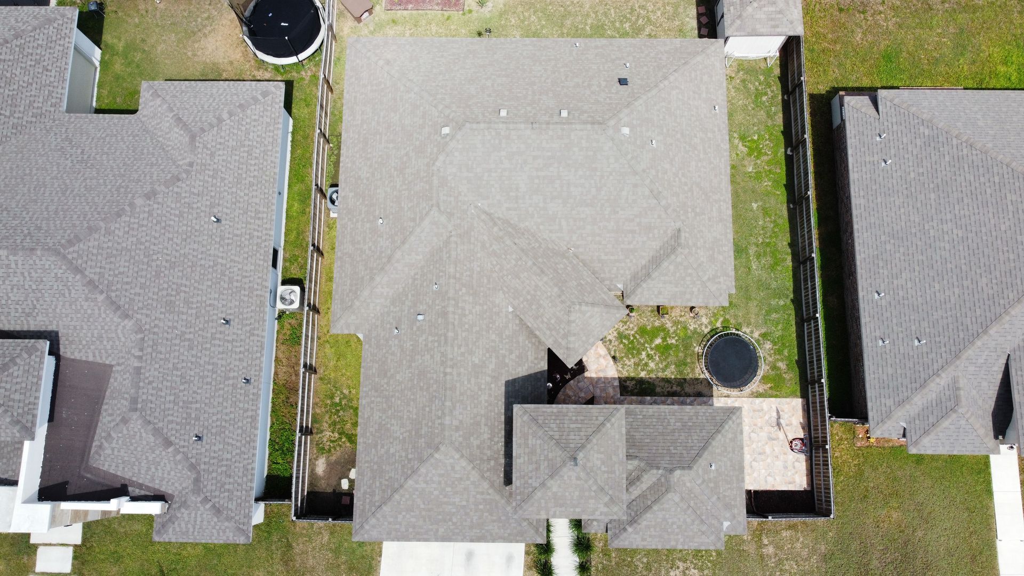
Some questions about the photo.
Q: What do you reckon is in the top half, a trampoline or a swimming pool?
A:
trampoline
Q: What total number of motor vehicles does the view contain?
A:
0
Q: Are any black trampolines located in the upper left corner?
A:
Yes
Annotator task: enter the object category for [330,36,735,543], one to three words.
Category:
house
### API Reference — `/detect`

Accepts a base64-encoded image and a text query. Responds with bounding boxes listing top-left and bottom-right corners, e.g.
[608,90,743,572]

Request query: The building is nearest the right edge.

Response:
[813,87,1024,458]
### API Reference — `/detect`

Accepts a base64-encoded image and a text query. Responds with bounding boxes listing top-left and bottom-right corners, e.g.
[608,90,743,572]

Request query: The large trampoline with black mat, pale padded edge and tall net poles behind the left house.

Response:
[232,0,324,70]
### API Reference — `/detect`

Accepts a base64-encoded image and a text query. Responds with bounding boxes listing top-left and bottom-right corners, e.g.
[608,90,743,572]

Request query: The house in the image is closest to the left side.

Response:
[0,7,295,543]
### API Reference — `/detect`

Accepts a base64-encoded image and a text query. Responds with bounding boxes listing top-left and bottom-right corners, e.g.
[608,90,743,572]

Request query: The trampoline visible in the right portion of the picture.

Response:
[702,331,764,392]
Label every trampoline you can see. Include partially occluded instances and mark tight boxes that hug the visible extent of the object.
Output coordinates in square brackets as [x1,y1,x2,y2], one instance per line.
[702,331,764,392]
[232,0,324,70]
